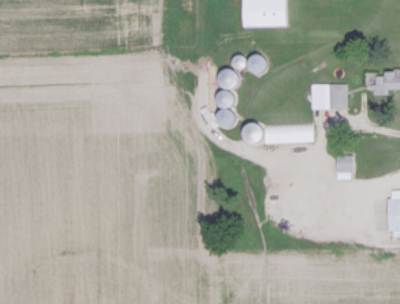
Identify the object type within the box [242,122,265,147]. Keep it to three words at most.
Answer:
silo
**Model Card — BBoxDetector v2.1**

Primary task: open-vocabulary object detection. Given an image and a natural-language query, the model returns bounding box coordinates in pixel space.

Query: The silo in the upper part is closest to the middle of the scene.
[216,109,238,132]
